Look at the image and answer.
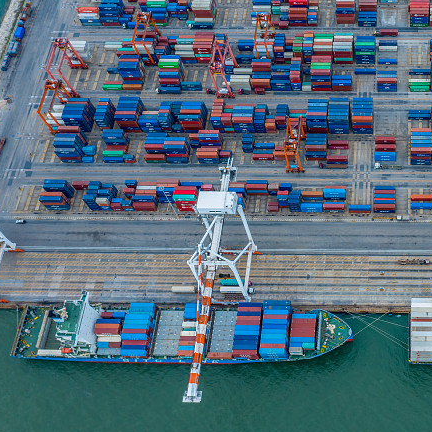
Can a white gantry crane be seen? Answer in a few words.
Yes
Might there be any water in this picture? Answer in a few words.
Yes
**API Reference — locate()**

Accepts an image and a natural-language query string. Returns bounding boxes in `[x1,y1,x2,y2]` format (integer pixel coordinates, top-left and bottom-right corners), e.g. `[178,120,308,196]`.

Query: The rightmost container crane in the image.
[282,112,308,171]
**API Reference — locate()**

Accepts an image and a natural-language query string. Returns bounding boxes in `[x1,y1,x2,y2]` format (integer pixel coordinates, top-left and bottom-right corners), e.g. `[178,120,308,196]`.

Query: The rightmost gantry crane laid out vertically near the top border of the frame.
[254,10,277,66]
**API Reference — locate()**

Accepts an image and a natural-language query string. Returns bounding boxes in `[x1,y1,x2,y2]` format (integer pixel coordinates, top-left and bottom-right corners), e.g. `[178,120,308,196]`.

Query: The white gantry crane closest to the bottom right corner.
[182,157,265,399]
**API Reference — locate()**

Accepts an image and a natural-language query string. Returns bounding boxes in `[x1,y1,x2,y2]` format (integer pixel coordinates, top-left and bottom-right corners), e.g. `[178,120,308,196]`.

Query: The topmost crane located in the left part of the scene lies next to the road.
[134,10,166,66]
